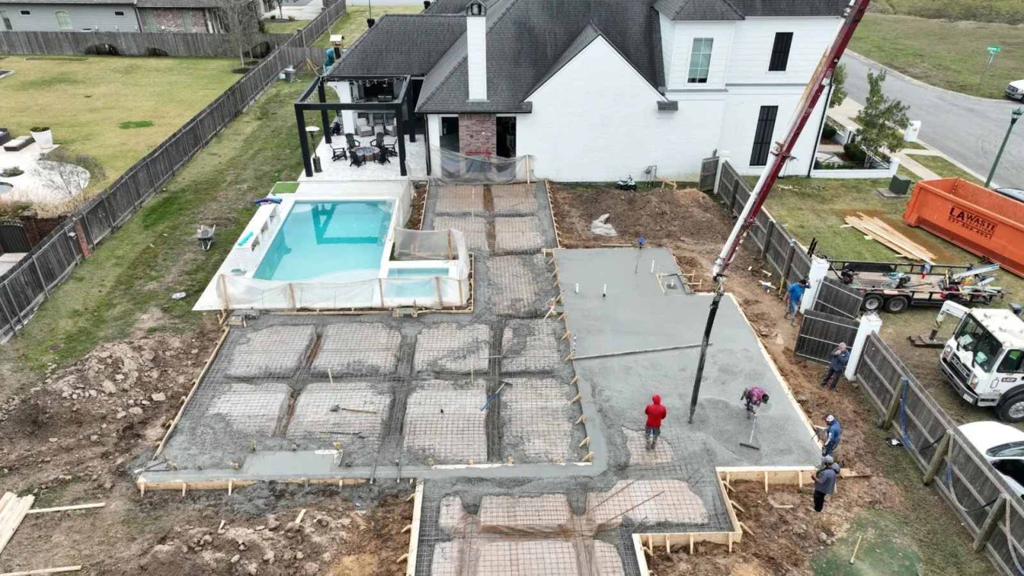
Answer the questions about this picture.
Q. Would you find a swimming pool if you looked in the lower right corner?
No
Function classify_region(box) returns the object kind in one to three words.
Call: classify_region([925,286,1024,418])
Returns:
truck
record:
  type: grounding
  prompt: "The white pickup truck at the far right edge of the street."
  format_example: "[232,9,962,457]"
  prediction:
[1001,80,1024,101]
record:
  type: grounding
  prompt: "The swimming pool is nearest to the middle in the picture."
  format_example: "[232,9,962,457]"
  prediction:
[232,198,463,304]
